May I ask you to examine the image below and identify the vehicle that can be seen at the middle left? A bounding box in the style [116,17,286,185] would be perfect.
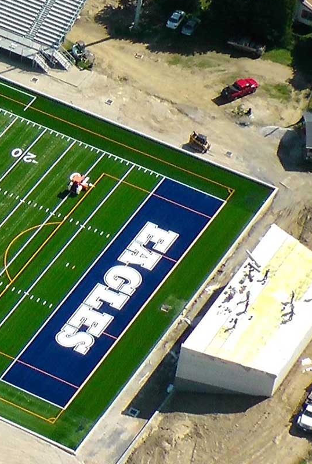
[70,171,99,200]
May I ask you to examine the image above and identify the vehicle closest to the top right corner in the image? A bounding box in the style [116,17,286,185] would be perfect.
[225,33,272,59]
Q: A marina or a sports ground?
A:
sports ground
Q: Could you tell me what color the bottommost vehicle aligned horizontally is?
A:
red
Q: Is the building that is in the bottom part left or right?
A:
right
